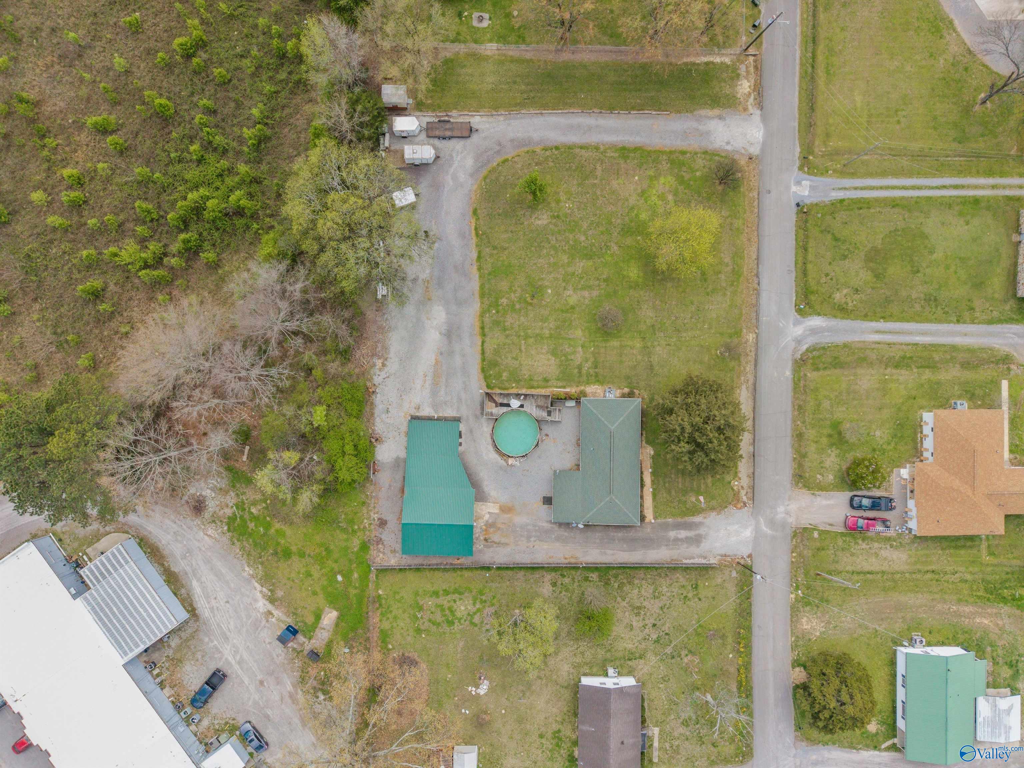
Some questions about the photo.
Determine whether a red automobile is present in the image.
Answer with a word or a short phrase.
Yes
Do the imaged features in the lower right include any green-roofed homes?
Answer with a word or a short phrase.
Yes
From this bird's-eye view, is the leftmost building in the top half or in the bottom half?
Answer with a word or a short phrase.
bottom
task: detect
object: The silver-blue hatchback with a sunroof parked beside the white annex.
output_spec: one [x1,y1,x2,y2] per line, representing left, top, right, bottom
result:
[239,719,270,754]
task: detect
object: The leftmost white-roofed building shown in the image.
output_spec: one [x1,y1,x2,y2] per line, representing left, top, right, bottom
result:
[0,535,209,768]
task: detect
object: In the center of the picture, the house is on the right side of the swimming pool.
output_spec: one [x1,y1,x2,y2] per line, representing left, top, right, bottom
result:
[552,398,642,526]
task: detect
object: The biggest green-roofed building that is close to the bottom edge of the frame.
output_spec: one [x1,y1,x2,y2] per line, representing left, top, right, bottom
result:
[896,647,987,767]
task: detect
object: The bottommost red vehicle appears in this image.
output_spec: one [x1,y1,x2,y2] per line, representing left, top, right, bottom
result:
[8,734,33,758]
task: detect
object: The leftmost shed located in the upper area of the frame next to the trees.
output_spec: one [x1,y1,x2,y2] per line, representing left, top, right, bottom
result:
[382,85,407,110]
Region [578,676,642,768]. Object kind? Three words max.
house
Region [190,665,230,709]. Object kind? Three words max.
truck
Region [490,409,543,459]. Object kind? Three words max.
swimming pool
